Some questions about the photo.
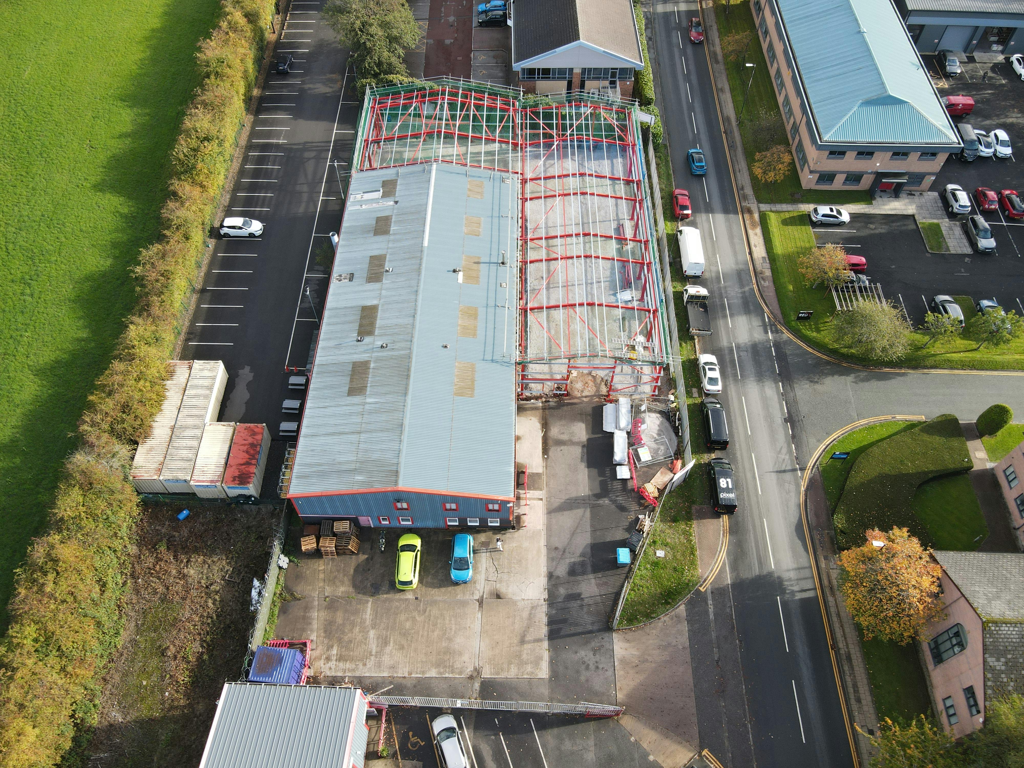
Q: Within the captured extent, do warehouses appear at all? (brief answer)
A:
Yes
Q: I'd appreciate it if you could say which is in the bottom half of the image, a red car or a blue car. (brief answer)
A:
blue car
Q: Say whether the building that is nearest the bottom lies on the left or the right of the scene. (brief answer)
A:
left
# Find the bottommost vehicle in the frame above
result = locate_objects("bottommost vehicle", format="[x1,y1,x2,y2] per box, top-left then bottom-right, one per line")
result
[437,715,468,768]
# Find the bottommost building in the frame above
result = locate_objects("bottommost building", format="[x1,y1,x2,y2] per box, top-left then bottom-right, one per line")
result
[206,679,376,768]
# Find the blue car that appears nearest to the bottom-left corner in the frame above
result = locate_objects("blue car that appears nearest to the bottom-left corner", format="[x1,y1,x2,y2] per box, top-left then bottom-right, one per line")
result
[447,535,475,586]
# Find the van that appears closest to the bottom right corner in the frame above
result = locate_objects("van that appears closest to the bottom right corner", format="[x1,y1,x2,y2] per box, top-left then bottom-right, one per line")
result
[706,463,738,518]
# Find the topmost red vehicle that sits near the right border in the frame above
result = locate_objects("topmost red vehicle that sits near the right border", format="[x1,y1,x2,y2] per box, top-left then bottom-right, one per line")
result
[942,95,981,117]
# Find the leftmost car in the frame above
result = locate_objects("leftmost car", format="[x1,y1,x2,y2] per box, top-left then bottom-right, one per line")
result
[219,217,263,239]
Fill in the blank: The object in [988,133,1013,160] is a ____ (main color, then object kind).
white car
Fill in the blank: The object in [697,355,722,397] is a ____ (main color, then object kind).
white car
